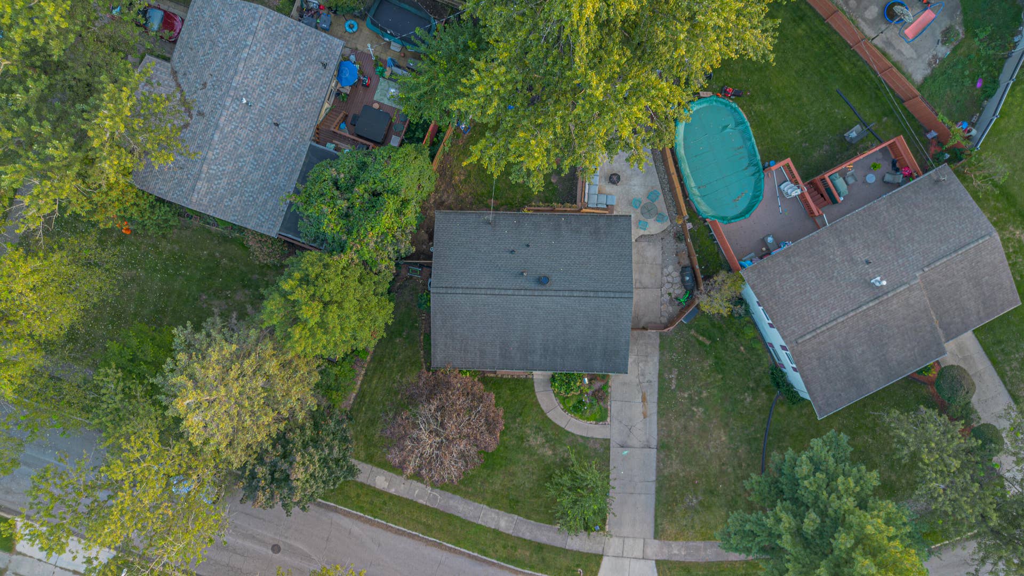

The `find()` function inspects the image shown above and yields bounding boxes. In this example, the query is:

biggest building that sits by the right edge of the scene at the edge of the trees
[729,162,1021,421]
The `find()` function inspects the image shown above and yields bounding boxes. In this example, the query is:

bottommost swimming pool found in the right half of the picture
[672,94,763,226]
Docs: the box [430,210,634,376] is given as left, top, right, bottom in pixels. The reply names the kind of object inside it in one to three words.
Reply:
house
